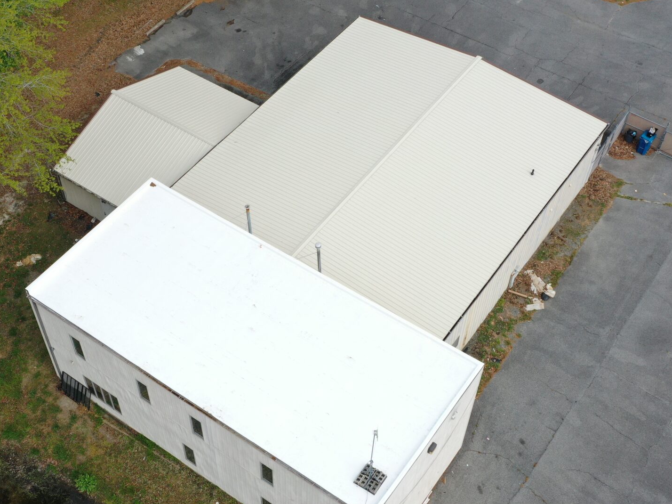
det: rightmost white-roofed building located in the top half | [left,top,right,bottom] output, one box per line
[167,14,611,349]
